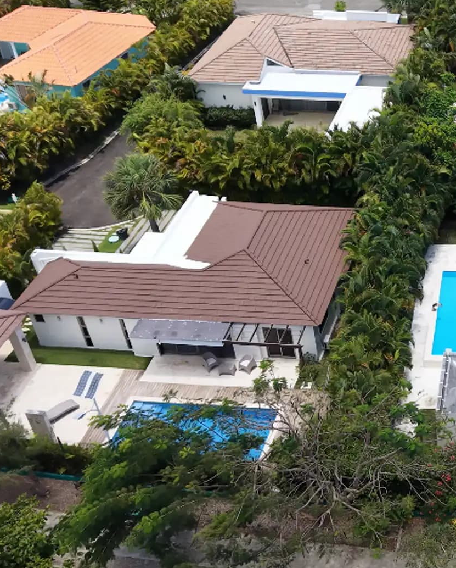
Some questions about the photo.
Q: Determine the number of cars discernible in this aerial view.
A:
0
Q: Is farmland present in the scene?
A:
No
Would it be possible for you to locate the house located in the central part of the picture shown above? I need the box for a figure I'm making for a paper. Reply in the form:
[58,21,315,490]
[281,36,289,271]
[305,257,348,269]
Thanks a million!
[10,187,356,386]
